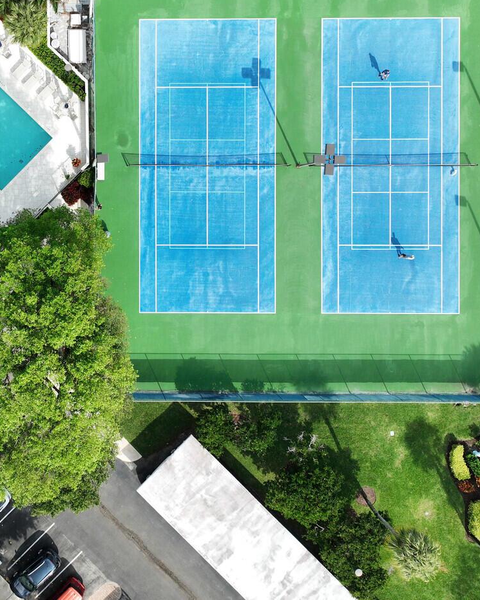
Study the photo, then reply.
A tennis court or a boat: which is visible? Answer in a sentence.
Looking from above, you can make out a tennis court.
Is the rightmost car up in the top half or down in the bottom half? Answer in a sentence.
The bottom half of the photo is where the rightmost car is.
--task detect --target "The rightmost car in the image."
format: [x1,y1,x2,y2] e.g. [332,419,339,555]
[49,575,89,600]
